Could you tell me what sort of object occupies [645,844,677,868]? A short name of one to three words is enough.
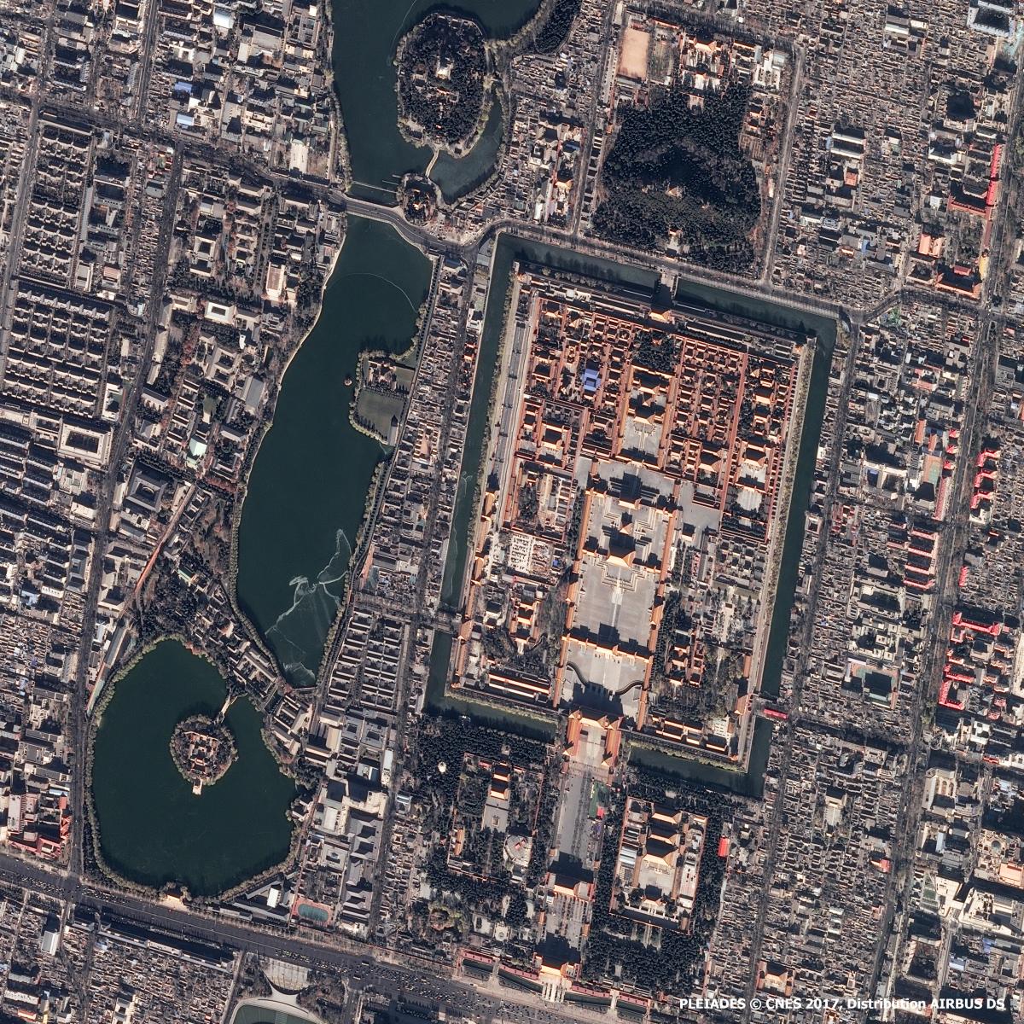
building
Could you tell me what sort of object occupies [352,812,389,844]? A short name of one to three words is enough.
building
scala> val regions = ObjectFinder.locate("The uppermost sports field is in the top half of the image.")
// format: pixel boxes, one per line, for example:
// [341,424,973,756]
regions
[617,28,649,79]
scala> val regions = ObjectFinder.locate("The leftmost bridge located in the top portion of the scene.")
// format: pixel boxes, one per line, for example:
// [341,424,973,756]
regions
[343,196,398,222]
